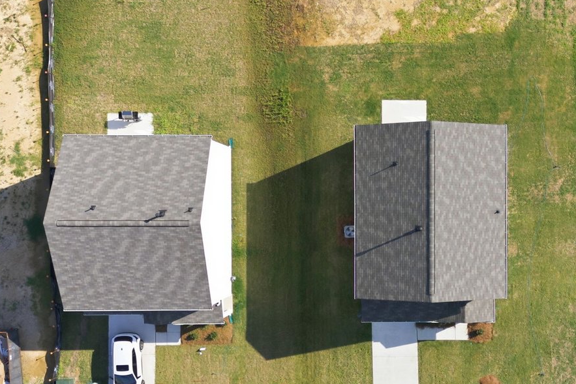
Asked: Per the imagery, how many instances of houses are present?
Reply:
2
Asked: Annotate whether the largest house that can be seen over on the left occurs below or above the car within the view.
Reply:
above it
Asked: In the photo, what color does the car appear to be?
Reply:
white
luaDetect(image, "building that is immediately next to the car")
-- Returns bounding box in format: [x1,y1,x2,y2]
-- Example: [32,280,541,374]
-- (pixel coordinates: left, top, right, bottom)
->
[43,132,232,325]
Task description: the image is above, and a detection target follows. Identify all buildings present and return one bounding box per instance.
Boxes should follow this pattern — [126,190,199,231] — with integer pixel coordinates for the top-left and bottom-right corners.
[43,132,232,325]
[353,120,509,324]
